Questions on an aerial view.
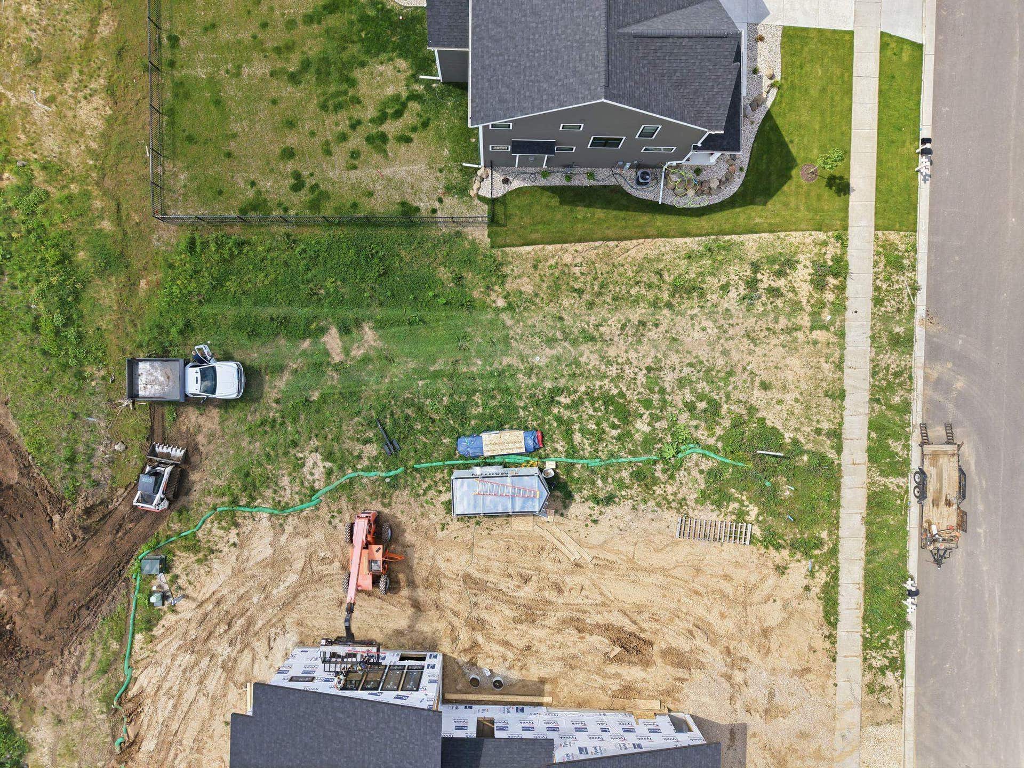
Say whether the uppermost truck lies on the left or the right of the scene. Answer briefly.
left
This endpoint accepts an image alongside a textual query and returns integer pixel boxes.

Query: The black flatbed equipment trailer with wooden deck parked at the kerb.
[912,423,967,568]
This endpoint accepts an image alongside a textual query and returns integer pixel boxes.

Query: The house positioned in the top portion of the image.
[421,0,745,203]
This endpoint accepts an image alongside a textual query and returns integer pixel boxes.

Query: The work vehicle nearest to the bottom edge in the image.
[329,516,398,645]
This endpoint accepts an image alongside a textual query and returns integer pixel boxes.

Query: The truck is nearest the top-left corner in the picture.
[127,344,248,406]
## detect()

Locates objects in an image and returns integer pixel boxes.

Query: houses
[227,646,717,768]
[421,0,745,203]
